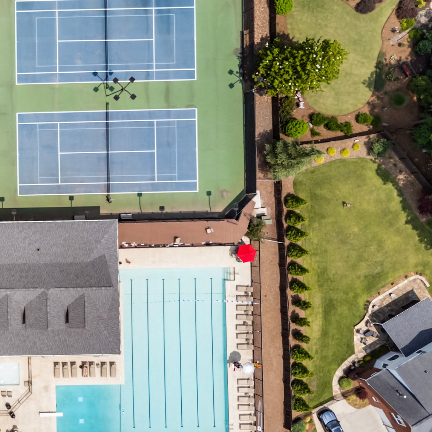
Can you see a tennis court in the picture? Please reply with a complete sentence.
Yes, a tennis court appears in the view.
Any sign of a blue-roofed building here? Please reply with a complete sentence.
No, I can see no blue-roofed building in this picture.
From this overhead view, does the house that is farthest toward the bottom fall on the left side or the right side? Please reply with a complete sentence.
The house that is farthest toward the bottom sits on the right side.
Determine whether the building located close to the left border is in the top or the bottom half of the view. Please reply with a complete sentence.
It is in the bottom half that the building located close to the left border appears.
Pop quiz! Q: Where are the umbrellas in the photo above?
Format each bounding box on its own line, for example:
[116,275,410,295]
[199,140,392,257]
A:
[235,243,254,262]
[242,362,254,374]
